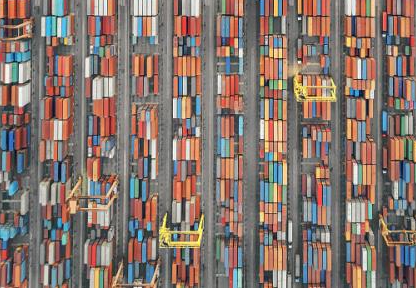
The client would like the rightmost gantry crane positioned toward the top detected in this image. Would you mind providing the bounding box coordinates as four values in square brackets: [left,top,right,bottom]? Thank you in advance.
[293,74,339,101]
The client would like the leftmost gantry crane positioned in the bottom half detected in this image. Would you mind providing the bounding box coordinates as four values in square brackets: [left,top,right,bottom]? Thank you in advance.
[68,177,121,212]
